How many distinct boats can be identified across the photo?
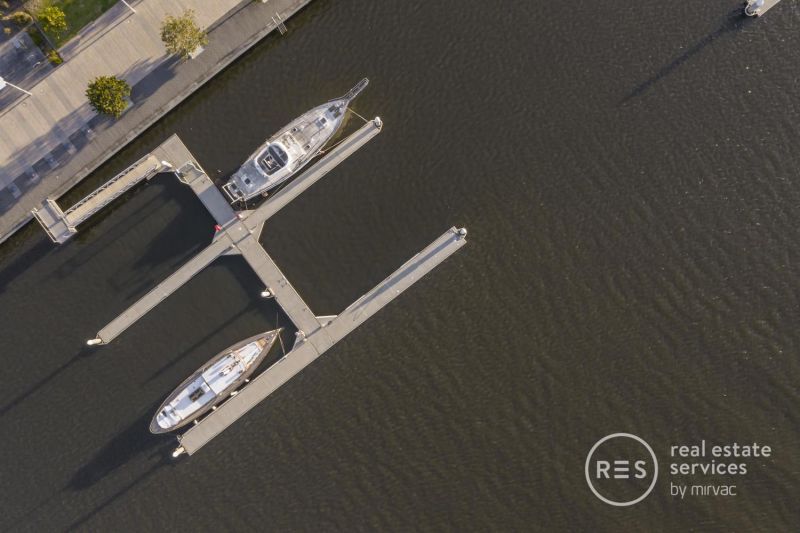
two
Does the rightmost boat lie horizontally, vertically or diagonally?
diagonally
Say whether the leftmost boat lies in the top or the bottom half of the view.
bottom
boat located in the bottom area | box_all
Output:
[150,329,284,434]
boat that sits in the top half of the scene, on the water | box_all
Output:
[223,75,369,204]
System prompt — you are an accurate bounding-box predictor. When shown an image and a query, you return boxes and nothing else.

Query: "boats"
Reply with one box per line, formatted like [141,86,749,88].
[150,329,284,434]
[223,75,369,204]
